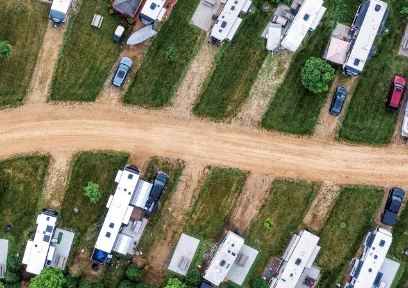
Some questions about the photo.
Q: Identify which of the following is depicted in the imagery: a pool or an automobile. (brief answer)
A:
automobile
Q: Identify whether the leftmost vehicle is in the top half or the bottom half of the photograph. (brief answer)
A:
bottom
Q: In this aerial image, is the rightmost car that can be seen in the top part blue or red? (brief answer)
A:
red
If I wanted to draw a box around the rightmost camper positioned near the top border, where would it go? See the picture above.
[343,0,390,77]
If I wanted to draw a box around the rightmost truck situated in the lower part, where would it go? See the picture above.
[380,186,405,228]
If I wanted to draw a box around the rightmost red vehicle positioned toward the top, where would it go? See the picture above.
[386,76,406,111]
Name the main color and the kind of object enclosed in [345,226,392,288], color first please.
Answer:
white camper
